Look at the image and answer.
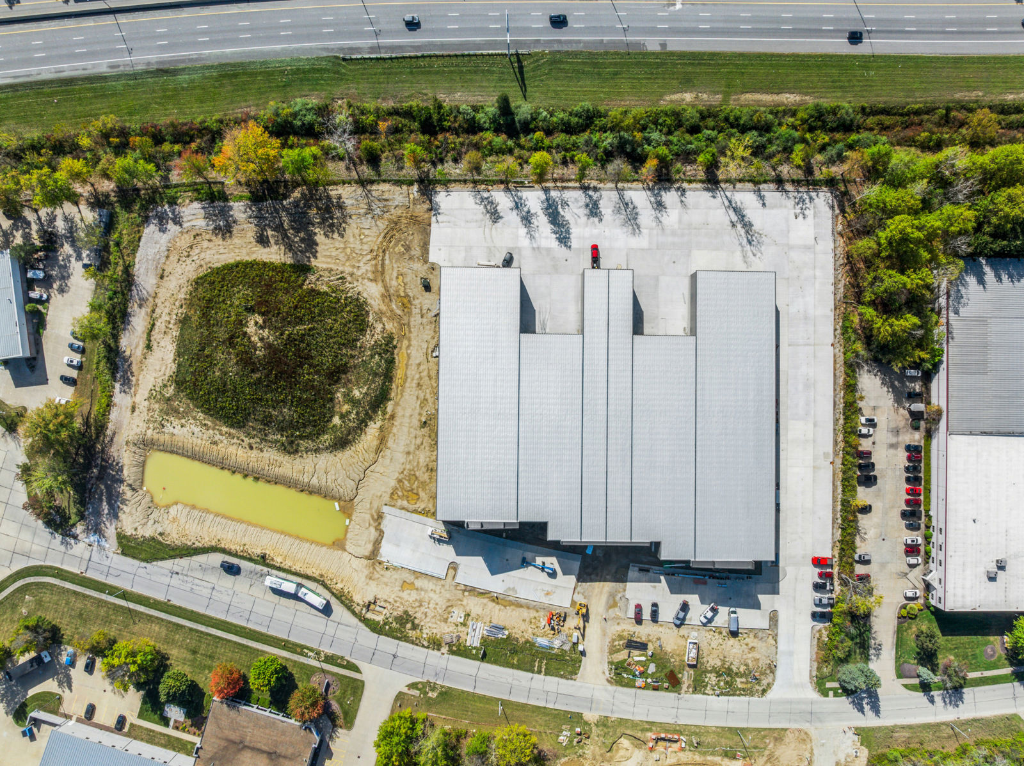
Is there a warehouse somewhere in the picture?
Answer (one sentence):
Yes, a warehouse appears in the view.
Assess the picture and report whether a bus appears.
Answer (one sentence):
Yes, there's a bus down there.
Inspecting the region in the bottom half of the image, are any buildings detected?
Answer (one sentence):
Yes, a building appears in the bottom half of the image.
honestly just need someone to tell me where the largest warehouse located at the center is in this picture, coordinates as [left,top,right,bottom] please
[436,267,776,571]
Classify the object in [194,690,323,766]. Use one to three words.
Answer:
building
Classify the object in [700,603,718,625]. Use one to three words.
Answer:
vehicle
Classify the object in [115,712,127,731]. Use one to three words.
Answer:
vehicle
